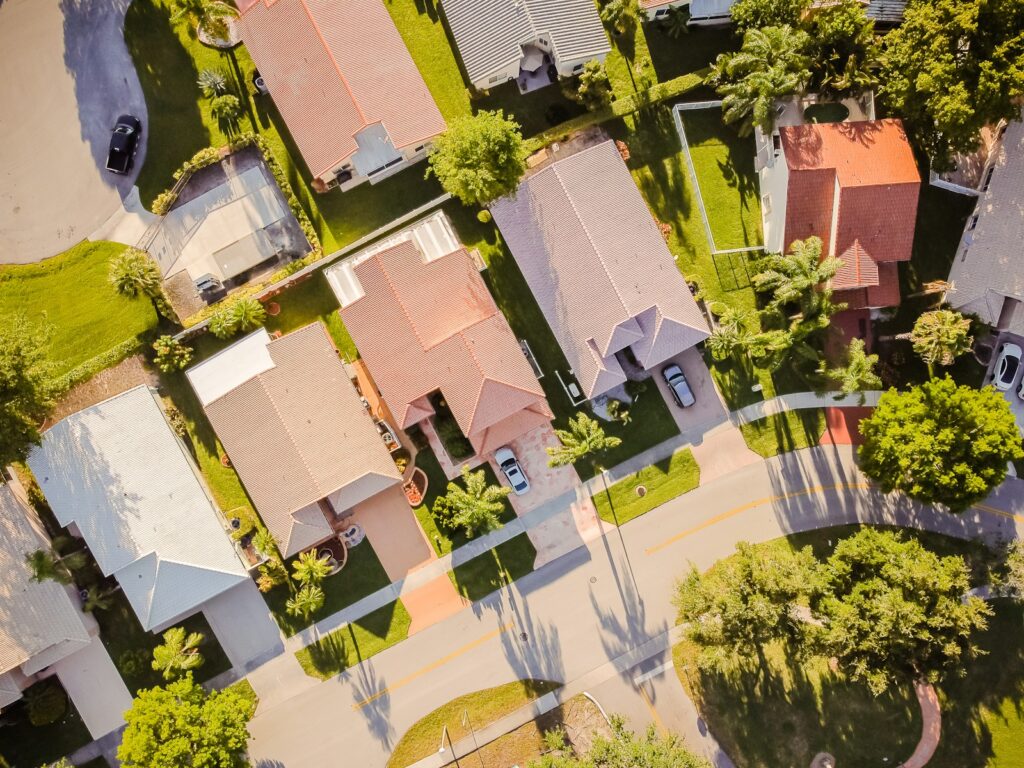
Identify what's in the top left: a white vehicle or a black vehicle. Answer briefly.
black vehicle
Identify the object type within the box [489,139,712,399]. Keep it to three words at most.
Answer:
house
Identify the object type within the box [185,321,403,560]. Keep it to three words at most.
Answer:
house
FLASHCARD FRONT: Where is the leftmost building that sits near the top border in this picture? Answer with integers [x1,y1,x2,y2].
[229,0,446,199]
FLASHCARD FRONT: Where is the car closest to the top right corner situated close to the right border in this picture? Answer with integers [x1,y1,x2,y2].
[989,342,1022,391]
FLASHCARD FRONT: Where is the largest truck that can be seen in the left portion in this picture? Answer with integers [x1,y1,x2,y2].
[105,113,140,177]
